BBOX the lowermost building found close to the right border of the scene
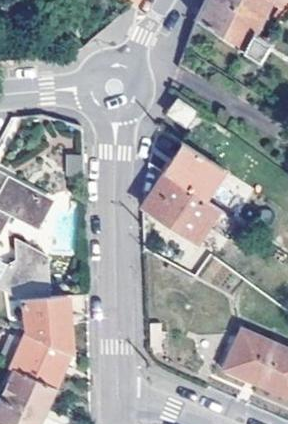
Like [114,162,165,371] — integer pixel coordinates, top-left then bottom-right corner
[222,326,288,401]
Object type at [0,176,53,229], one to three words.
house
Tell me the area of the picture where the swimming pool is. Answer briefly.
left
